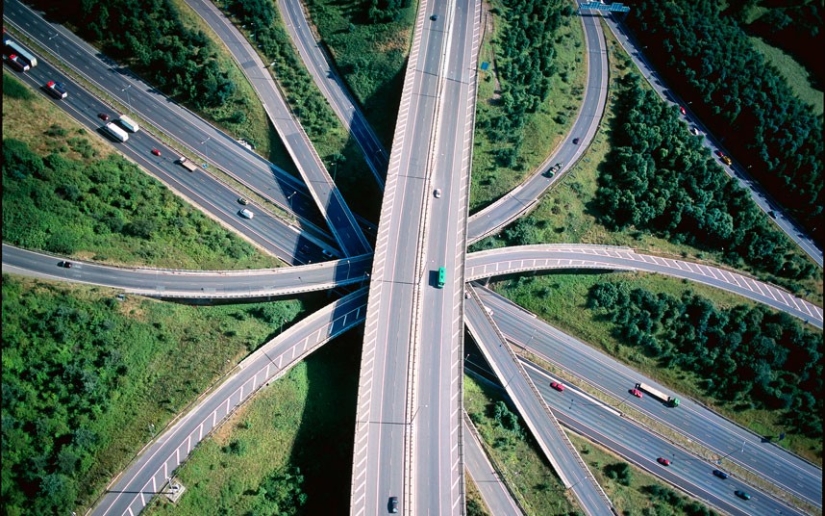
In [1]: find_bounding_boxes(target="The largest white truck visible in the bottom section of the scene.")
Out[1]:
[638,383,678,409]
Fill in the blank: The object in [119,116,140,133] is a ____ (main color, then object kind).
white vehicle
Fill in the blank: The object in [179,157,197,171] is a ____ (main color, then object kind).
white vehicle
